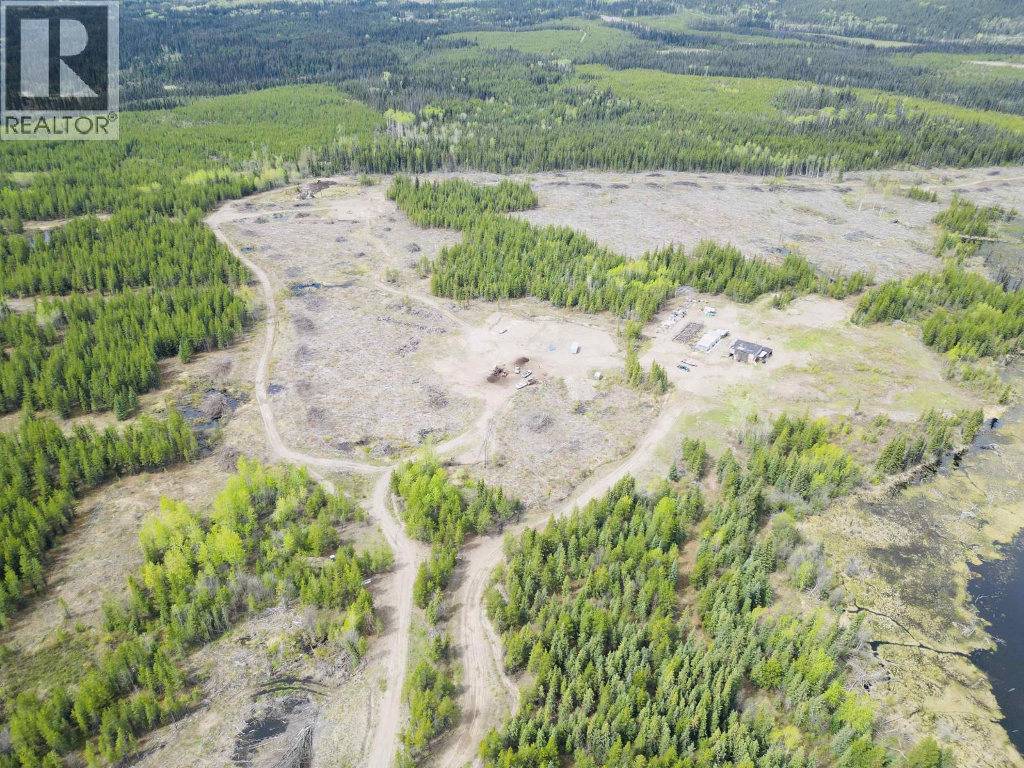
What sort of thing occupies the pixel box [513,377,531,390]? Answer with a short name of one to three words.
vehicle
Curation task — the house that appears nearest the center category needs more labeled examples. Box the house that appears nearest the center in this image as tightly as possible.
[694,327,729,356]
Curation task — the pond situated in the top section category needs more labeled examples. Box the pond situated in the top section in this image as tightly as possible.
[961,221,1024,295]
